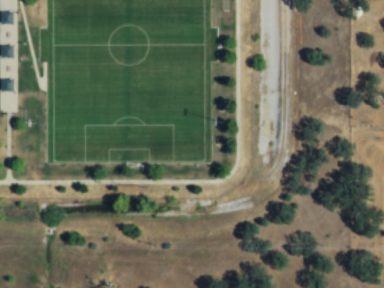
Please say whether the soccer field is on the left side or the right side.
left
